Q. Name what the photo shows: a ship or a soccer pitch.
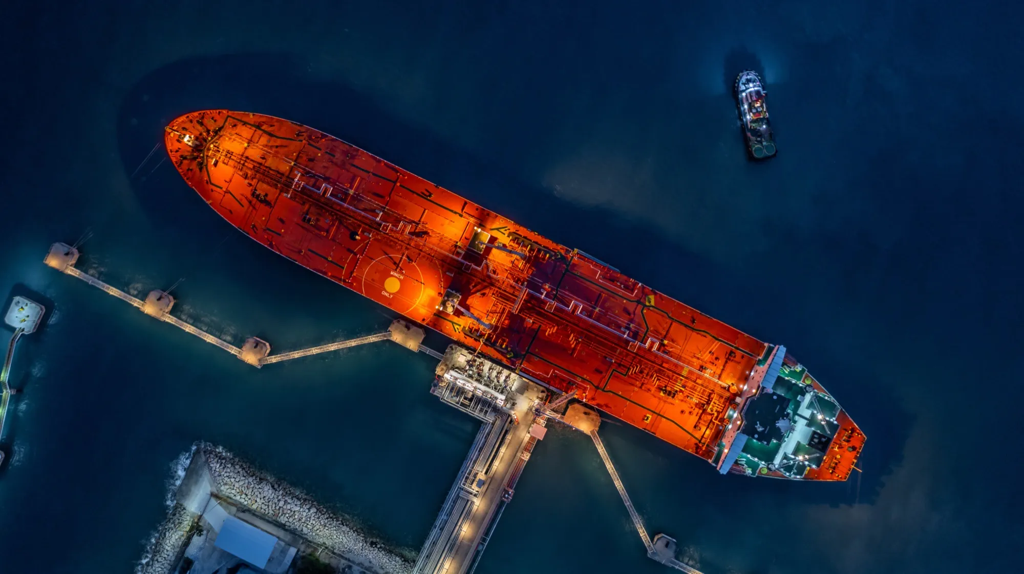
ship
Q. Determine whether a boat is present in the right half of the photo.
Yes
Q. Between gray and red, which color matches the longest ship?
red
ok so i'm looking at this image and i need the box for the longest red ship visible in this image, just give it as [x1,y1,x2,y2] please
[163,109,867,483]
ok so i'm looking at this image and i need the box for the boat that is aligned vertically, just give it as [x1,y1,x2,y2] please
[737,69,776,160]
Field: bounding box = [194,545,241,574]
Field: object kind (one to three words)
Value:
shed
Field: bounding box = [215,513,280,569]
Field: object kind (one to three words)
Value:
shed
